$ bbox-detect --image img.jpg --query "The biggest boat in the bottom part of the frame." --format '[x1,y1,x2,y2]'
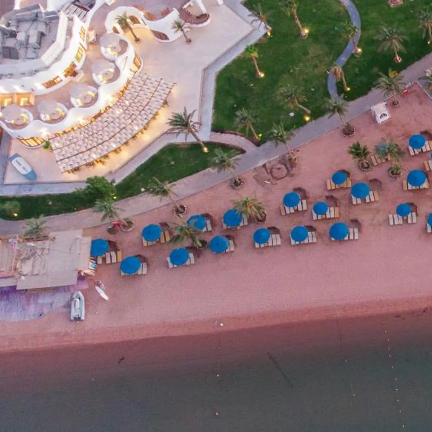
[70,290,86,322]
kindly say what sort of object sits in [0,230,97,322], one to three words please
shed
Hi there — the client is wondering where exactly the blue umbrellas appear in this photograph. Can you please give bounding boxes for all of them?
[407,170,426,187]
[313,202,328,216]
[210,236,230,254]
[120,255,142,276]
[396,204,412,218]
[332,172,348,186]
[291,227,308,242]
[224,210,242,227]
[254,228,271,244]
[408,135,425,150]
[330,224,349,241]
[143,225,162,242]
[91,240,110,256]
[170,249,190,266]
[284,194,300,208]
[351,183,370,199]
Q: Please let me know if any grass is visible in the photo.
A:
Yes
